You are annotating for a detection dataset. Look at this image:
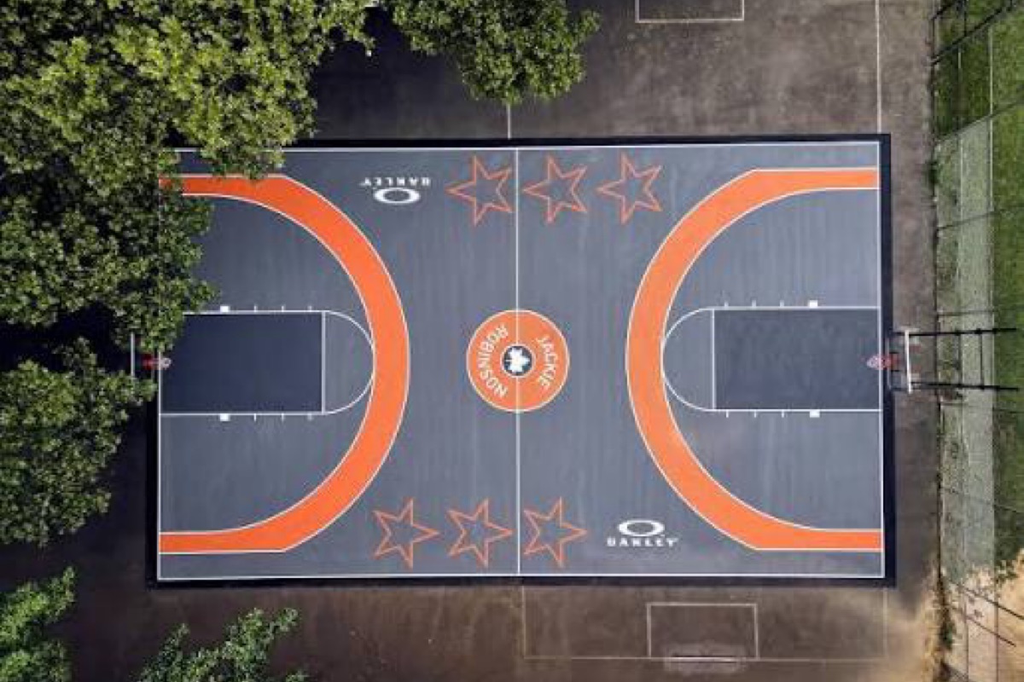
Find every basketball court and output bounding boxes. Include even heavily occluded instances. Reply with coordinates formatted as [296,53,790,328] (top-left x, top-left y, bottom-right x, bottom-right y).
[148,134,896,588]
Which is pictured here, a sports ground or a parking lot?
sports ground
